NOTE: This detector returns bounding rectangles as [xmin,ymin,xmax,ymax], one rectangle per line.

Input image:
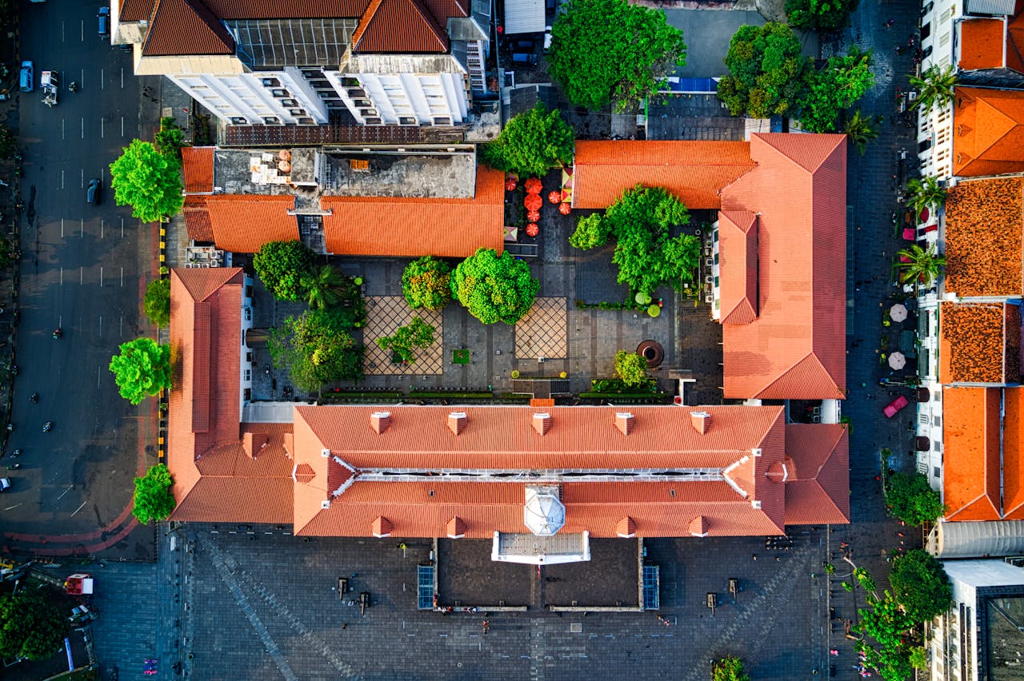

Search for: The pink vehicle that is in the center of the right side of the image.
[882,393,912,420]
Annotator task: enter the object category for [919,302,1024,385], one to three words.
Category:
house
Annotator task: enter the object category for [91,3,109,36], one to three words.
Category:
car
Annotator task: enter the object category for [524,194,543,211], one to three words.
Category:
umbrella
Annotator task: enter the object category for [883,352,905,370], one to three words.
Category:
umbrella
